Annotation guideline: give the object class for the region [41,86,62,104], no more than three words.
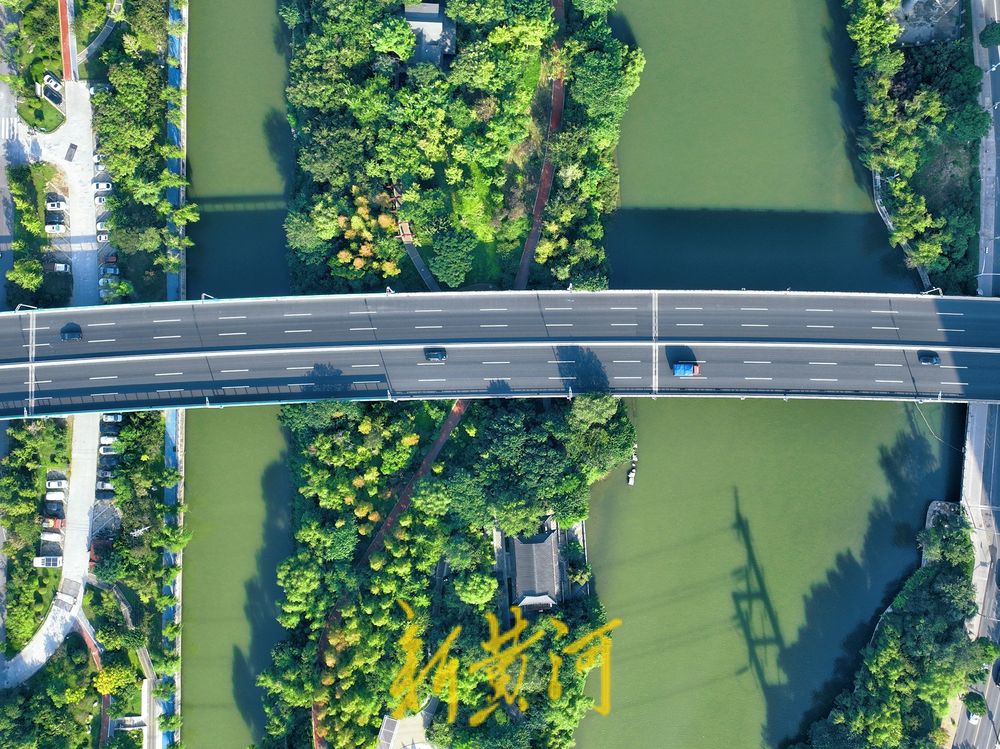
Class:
car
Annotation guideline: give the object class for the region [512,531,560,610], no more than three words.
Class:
building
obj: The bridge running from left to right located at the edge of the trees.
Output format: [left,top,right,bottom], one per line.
[0,291,1000,420]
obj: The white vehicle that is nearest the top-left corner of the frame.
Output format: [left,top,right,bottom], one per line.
[43,72,62,90]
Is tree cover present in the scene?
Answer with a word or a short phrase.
Yes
